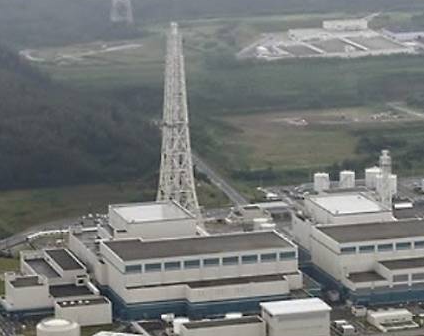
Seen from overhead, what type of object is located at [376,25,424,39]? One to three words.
building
